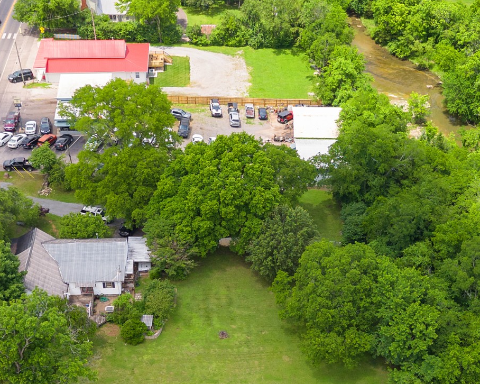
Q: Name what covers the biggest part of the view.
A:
trees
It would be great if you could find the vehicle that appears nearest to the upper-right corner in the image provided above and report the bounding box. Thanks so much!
[277,110,293,124]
